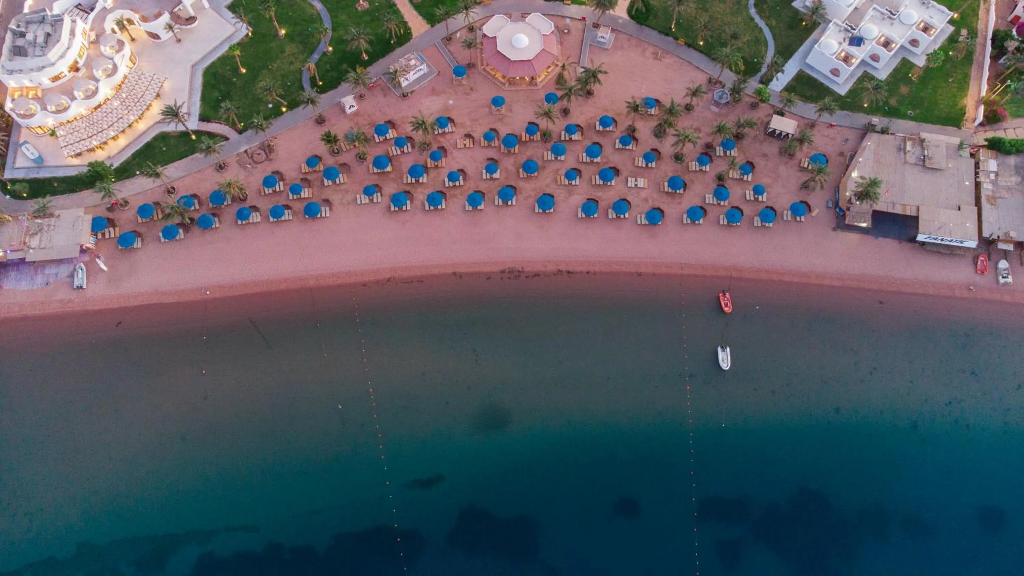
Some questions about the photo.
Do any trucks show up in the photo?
No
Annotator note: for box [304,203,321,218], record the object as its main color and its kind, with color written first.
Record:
blue umbrella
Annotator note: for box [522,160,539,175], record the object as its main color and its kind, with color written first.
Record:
blue umbrella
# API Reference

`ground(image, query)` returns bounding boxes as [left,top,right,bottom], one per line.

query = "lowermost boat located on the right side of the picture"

[716,343,731,371]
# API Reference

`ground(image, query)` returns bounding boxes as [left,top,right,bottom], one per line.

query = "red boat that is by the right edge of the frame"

[976,253,989,275]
